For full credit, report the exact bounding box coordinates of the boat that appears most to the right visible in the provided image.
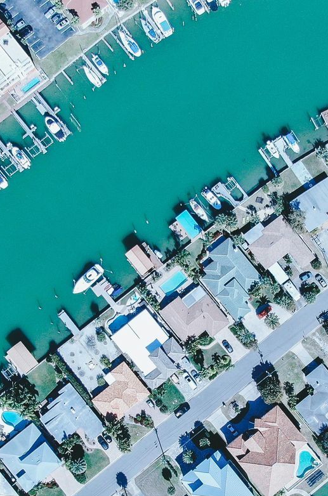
[284,132,298,152]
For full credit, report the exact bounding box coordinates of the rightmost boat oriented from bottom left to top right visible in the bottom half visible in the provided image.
[127,291,143,304]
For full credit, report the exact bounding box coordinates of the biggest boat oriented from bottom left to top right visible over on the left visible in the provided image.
[72,259,107,294]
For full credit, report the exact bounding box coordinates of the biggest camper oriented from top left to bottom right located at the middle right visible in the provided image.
[283,280,301,303]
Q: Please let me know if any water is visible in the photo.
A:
Yes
